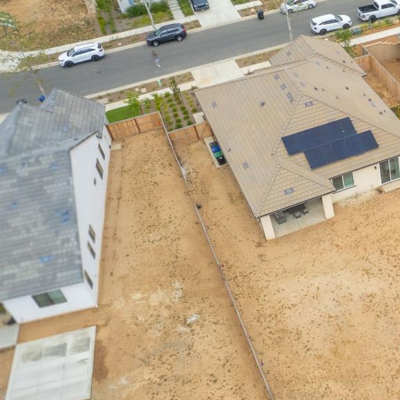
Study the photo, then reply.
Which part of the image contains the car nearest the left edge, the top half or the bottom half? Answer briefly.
top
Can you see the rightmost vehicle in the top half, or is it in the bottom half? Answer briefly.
top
